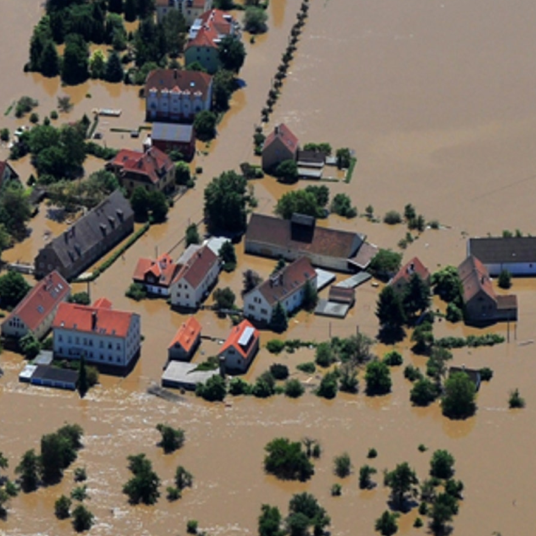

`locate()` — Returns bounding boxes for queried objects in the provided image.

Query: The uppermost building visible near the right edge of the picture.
[465,237,536,276]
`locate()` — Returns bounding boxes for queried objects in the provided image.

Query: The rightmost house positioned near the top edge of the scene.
[186,9,234,69]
